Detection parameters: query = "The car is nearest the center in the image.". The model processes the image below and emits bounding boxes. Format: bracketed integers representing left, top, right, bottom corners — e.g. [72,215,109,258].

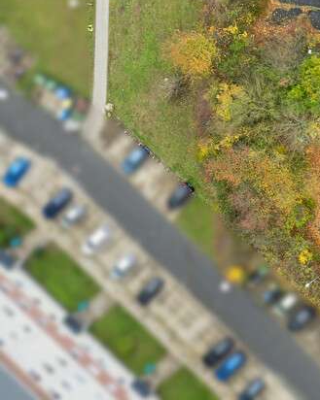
[163,178,199,213]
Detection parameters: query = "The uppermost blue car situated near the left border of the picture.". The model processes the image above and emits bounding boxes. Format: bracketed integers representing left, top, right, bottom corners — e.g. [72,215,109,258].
[1,156,34,188]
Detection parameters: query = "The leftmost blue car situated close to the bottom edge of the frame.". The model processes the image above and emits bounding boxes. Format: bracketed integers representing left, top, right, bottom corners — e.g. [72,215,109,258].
[214,351,247,382]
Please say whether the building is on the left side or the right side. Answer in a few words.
left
